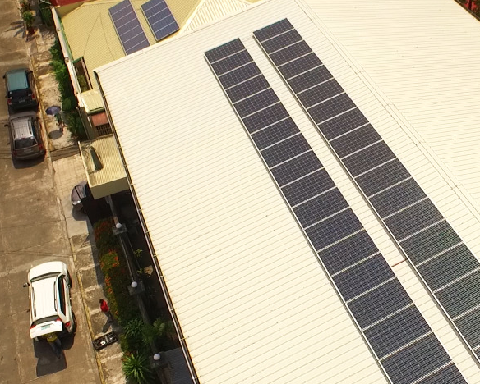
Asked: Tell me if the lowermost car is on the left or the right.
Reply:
left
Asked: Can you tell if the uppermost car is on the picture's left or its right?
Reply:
left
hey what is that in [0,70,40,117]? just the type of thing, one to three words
car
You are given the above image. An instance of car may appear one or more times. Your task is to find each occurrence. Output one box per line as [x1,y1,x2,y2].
[67,186,135,218]
[5,114,47,165]
[0,70,40,117]
[26,265,81,353]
